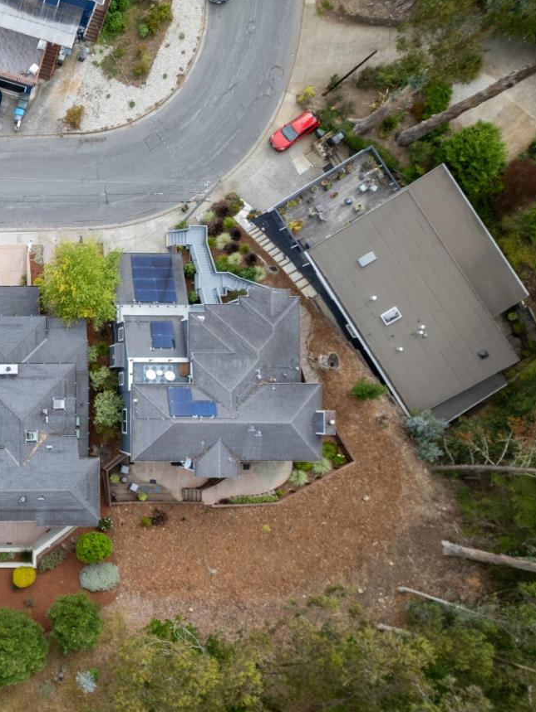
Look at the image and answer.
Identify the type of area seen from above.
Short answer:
residential area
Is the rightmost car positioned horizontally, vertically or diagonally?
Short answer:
diagonally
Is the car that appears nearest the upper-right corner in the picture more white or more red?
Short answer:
red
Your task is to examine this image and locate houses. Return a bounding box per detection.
[0,285,102,567]
[0,0,117,95]
[104,252,337,505]
[260,145,531,424]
